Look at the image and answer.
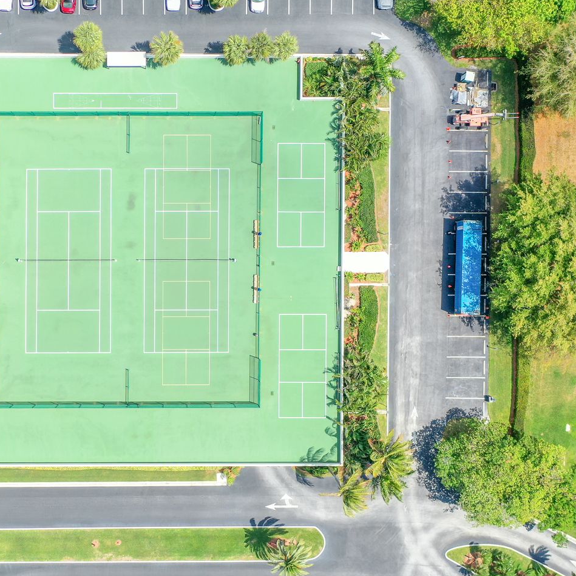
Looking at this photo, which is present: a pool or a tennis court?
tennis court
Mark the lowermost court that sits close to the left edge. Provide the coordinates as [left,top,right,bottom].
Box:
[16,168,118,353]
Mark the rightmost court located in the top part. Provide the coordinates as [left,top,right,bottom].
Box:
[278,142,326,247]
